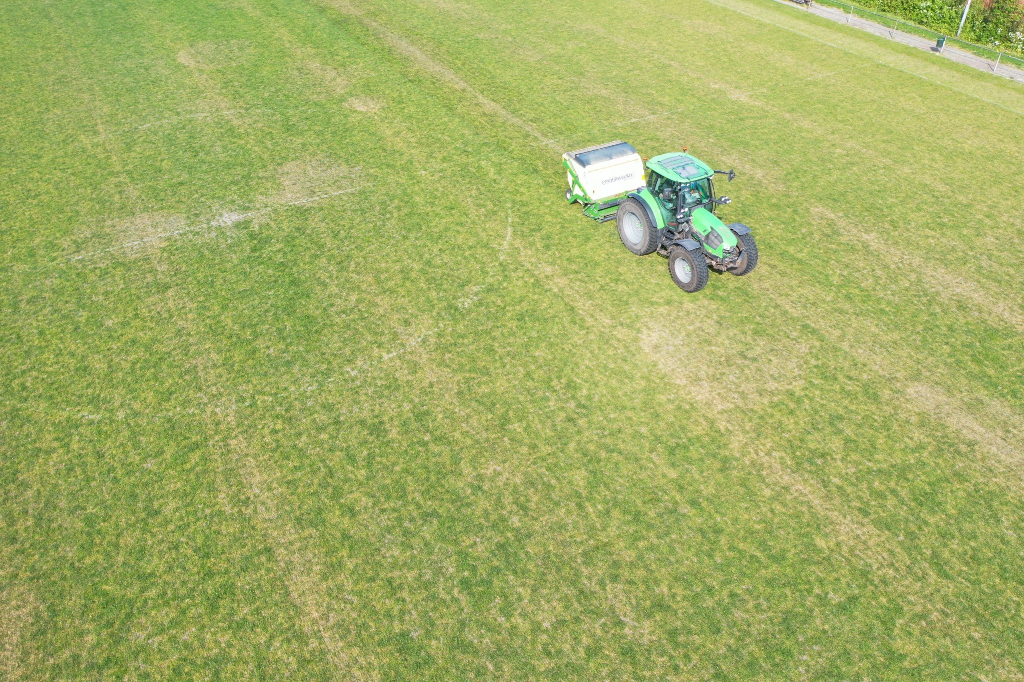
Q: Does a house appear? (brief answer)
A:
No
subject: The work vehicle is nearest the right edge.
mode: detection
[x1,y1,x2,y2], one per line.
[616,146,760,292]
